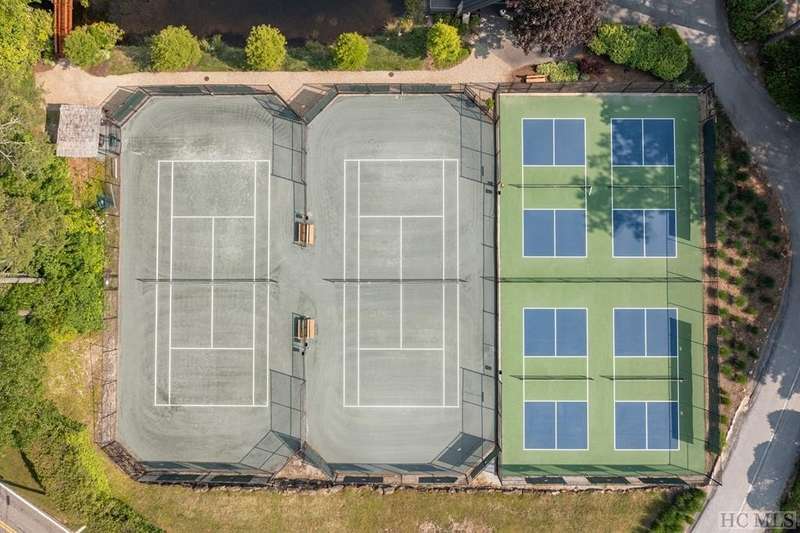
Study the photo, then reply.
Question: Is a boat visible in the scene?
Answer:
No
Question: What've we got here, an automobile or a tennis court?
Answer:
tennis court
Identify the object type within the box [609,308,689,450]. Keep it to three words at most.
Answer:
sports court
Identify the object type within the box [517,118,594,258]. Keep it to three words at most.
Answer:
sports court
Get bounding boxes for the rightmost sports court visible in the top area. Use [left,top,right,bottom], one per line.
[606,118,686,258]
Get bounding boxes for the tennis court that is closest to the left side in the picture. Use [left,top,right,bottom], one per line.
[116,95,305,473]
